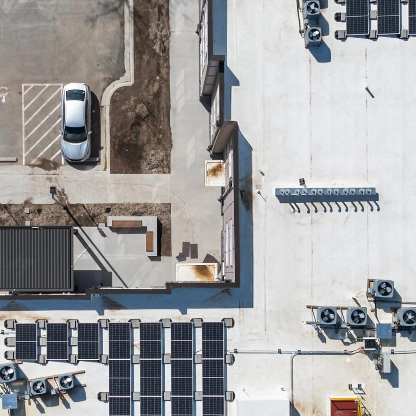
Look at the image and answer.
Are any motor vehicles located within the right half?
No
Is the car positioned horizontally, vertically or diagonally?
vertically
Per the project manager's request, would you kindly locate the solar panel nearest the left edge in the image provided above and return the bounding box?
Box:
[16,324,40,361]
